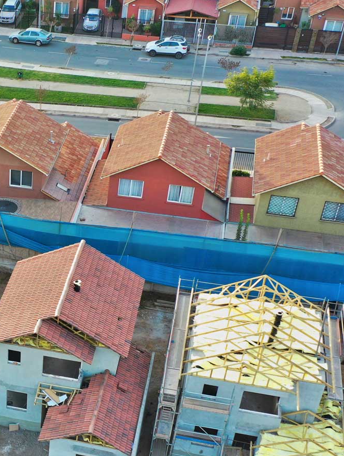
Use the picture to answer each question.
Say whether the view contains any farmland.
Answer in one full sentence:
No, the picture contains no farmland.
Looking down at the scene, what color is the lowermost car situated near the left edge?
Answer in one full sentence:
The color of the lowermost car situated near the left edge is blue.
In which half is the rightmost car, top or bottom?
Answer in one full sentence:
You can find the rightmost car in the top half.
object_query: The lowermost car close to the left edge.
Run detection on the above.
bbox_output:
[6,25,51,45]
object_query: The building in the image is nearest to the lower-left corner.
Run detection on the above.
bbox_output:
[0,238,158,456]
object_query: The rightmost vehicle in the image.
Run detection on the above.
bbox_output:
[144,34,191,58]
